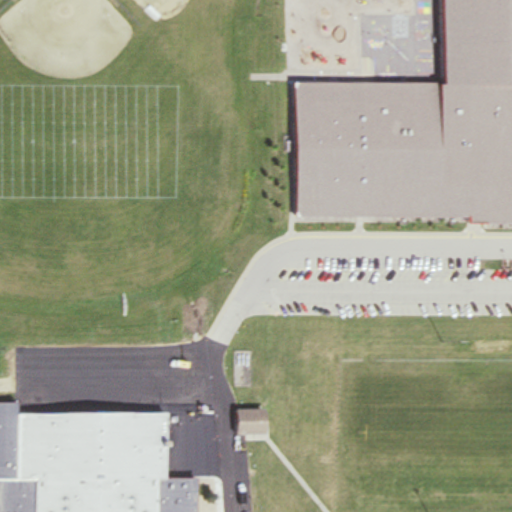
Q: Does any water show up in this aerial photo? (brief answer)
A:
No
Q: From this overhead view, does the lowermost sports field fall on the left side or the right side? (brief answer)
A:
right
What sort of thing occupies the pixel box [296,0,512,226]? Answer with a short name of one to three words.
building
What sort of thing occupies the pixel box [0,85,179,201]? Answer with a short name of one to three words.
sports field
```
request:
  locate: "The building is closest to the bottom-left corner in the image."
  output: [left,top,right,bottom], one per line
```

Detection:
[0,402,198,512]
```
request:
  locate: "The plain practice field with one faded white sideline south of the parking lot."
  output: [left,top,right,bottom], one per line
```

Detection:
[341,359,512,512]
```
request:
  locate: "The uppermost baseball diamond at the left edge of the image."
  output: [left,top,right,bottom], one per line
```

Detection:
[0,0,132,80]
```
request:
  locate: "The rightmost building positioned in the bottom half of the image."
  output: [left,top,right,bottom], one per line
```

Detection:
[238,409,269,435]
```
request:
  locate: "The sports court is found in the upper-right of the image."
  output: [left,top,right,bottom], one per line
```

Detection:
[360,1,440,78]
